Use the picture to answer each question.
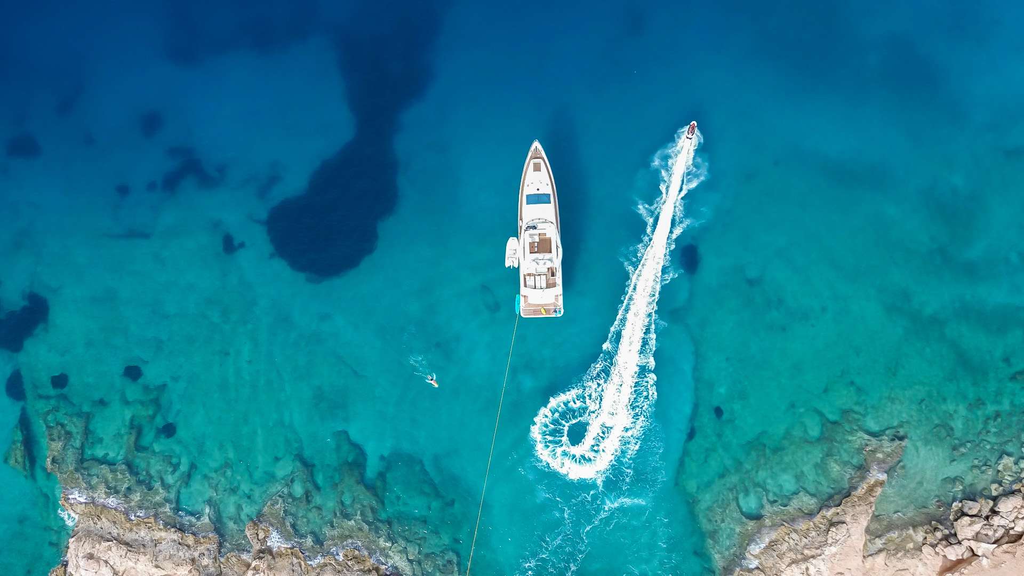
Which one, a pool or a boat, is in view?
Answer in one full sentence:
The image shows a boat.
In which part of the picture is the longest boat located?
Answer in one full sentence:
The longest boat is in the center part of the image.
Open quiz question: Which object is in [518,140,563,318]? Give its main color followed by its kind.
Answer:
white boat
